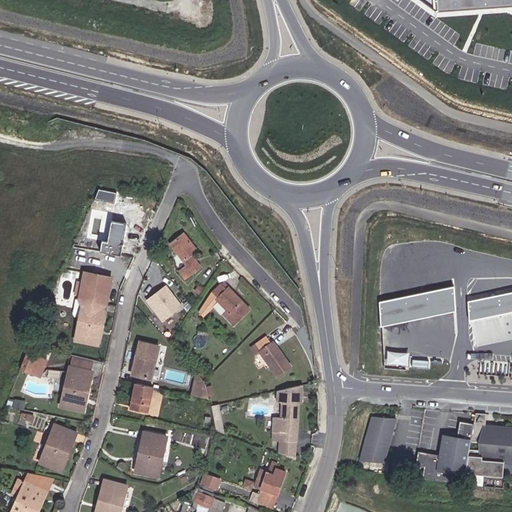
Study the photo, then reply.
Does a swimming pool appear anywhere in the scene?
Yes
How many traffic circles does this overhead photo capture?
one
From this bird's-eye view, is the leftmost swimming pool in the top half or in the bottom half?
bottom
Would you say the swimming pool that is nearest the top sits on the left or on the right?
left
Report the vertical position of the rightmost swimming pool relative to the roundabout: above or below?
below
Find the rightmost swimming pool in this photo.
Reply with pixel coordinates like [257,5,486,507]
[246,393,276,418]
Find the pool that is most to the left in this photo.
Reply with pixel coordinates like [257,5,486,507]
[22,372,59,398]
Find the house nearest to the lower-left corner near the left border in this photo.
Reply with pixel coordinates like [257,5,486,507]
[8,473,54,512]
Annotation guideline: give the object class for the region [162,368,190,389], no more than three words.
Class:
swimming pool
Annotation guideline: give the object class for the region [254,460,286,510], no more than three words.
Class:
house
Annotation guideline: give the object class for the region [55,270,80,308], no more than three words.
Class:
swimming pool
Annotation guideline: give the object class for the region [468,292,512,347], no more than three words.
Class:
building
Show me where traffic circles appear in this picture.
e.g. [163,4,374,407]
[224,58,377,209]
